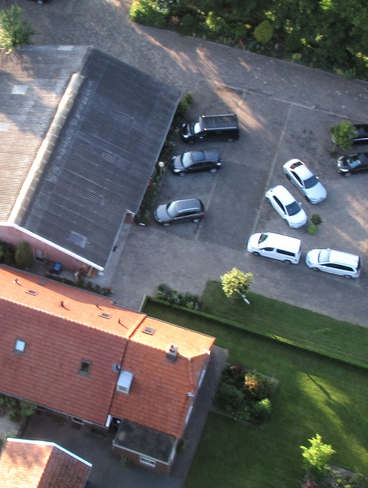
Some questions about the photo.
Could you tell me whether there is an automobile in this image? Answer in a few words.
Yes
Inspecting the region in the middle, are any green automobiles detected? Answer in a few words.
No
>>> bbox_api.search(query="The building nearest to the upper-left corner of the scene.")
[0,46,179,279]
